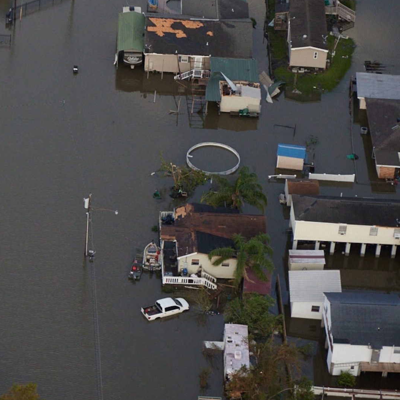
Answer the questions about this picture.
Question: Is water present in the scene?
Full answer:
Yes, the picture does contain water.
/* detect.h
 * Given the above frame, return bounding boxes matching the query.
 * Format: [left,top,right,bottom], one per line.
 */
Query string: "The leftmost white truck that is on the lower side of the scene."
[143,297,192,321]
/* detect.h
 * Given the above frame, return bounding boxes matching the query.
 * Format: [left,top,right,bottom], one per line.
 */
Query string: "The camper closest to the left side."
[118,49,139,65]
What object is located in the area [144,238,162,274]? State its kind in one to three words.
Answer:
boat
